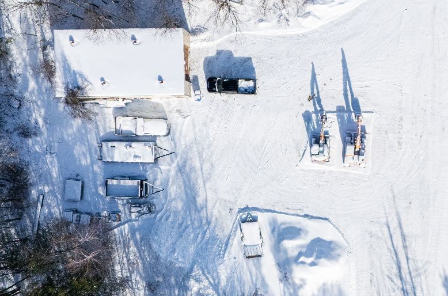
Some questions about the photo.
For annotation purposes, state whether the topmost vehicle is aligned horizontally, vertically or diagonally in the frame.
horizontally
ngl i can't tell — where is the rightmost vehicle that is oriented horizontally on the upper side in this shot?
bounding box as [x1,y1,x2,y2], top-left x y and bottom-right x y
[206,76,259,96]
